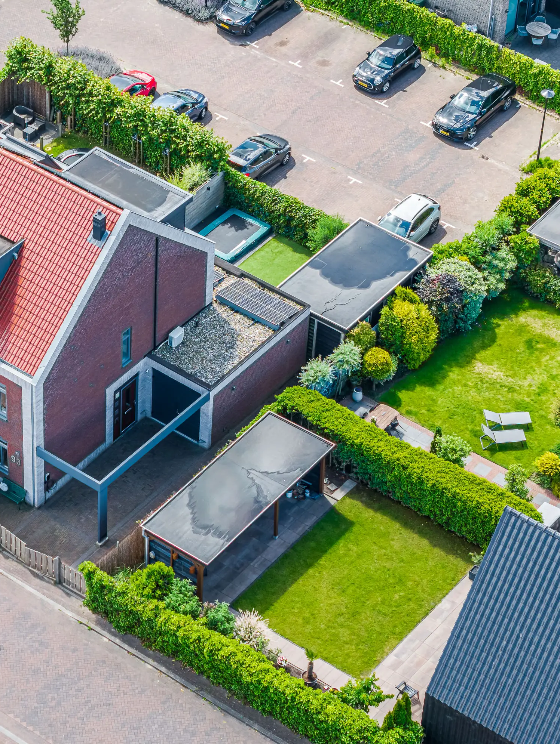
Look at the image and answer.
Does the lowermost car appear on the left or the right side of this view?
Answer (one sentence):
The lowermost car sits on the right side.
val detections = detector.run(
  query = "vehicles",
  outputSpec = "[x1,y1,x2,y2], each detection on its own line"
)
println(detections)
[370,194,443,243]
[351,33,423,94]
[227,136,292,191]
[149,90,208,127]
[432,73,519,146]
[99,68,156,103]
[214,0,294,39]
